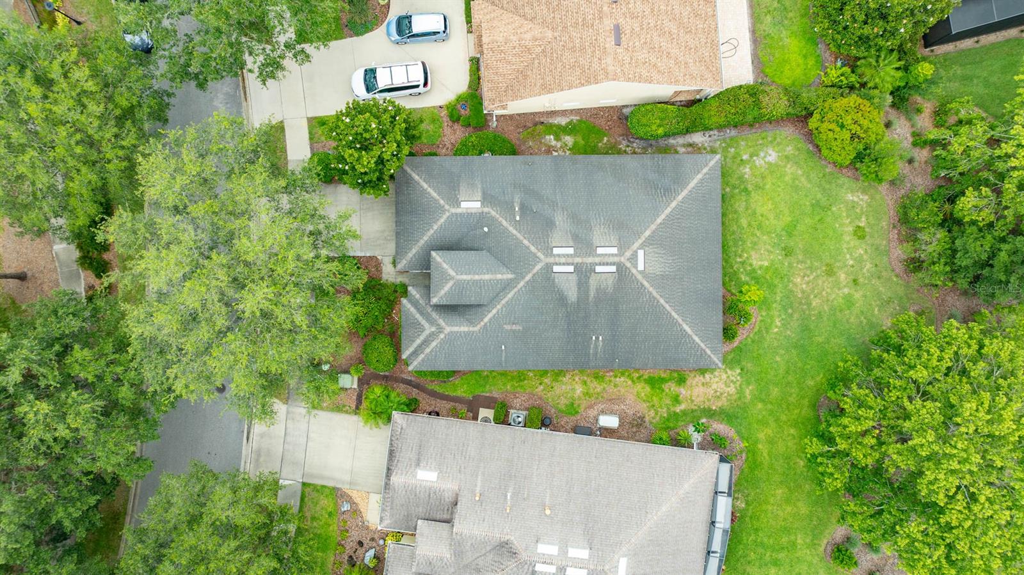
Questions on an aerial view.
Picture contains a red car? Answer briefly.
No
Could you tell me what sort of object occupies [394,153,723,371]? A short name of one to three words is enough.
house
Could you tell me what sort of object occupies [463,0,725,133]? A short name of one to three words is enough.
house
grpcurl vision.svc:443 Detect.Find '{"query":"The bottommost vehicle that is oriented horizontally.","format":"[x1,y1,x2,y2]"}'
[351,61,432,98]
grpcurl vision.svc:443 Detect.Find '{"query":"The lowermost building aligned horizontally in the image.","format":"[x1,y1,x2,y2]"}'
[378,411,719,575]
